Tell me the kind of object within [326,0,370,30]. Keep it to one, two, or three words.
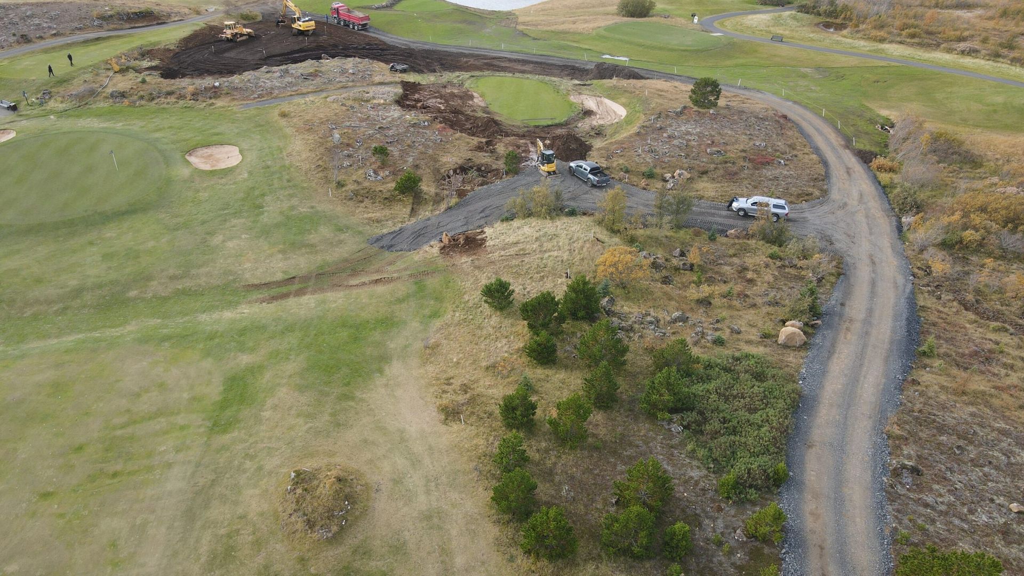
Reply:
truck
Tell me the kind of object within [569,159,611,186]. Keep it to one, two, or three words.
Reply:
truck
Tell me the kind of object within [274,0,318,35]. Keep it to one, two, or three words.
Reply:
work vehicle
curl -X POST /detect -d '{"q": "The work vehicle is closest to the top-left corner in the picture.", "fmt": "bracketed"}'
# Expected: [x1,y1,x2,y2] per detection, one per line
[217,18,256,40]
